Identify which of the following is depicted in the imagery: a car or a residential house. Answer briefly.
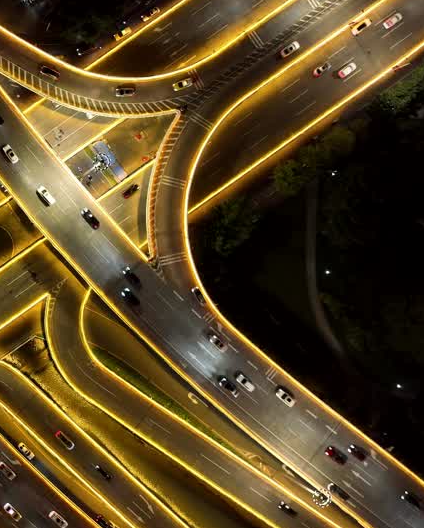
car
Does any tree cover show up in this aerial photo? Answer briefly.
Yes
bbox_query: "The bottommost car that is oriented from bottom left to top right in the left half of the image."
[121,183,140,198]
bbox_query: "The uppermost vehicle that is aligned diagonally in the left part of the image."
[144,3,162,19]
